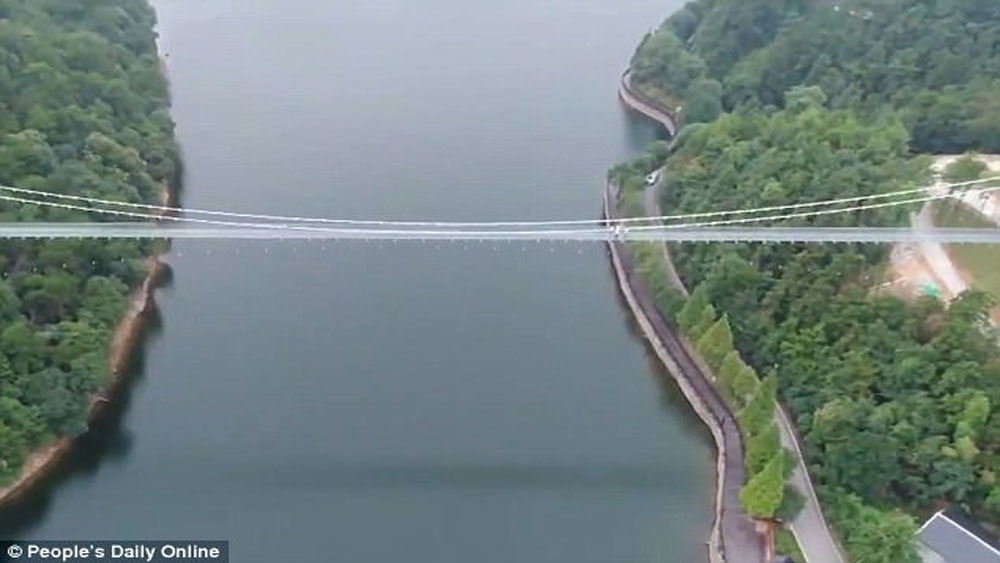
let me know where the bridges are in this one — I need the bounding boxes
[0,178,1000,299]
